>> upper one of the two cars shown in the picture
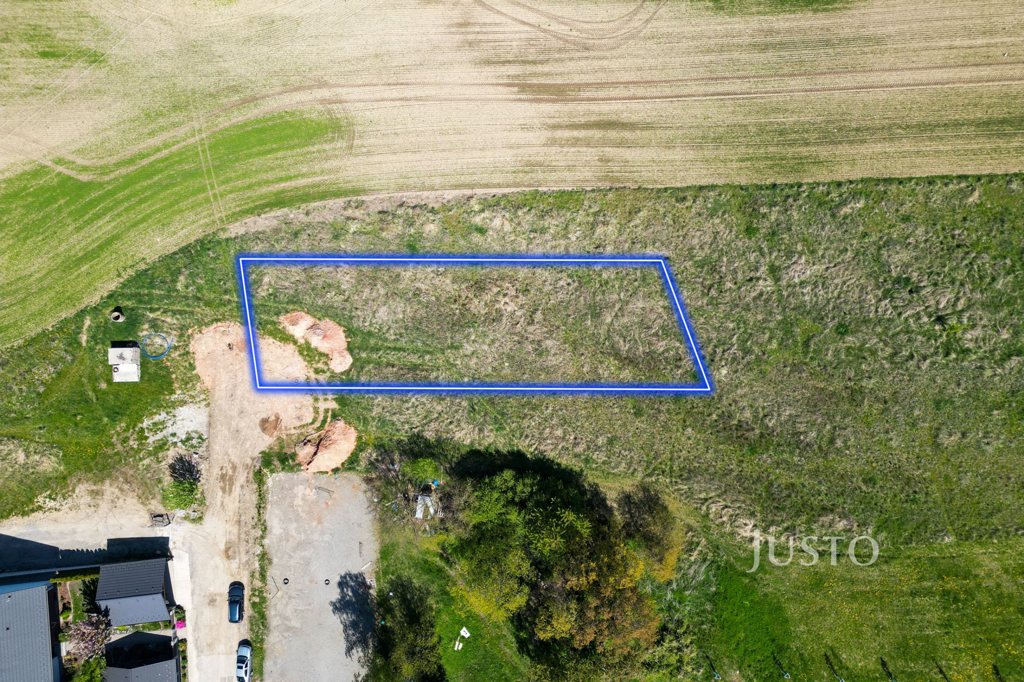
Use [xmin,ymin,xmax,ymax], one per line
[226,583,246,624]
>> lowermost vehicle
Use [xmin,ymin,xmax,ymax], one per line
[234,644,254,682]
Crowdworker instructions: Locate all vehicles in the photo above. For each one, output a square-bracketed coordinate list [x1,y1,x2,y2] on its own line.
[234,644,254,682]
[226,583,246,624]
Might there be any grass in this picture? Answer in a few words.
Yes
